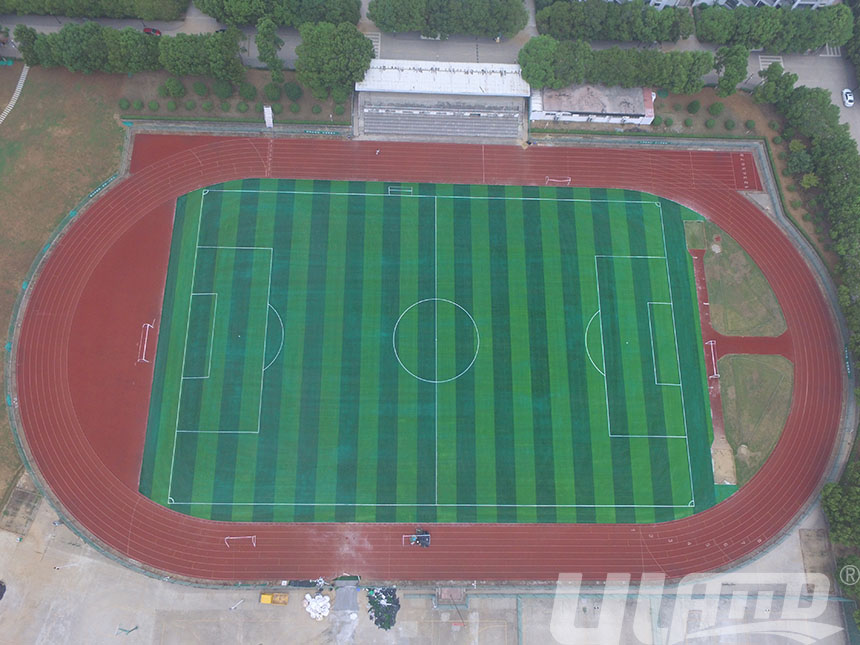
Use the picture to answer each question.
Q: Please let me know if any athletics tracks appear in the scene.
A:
Yes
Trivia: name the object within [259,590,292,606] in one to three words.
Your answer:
vehicle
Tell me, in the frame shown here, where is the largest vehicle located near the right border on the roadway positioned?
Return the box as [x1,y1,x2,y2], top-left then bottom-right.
[841,89,855,108]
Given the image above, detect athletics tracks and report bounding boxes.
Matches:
[13,134,842,580]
